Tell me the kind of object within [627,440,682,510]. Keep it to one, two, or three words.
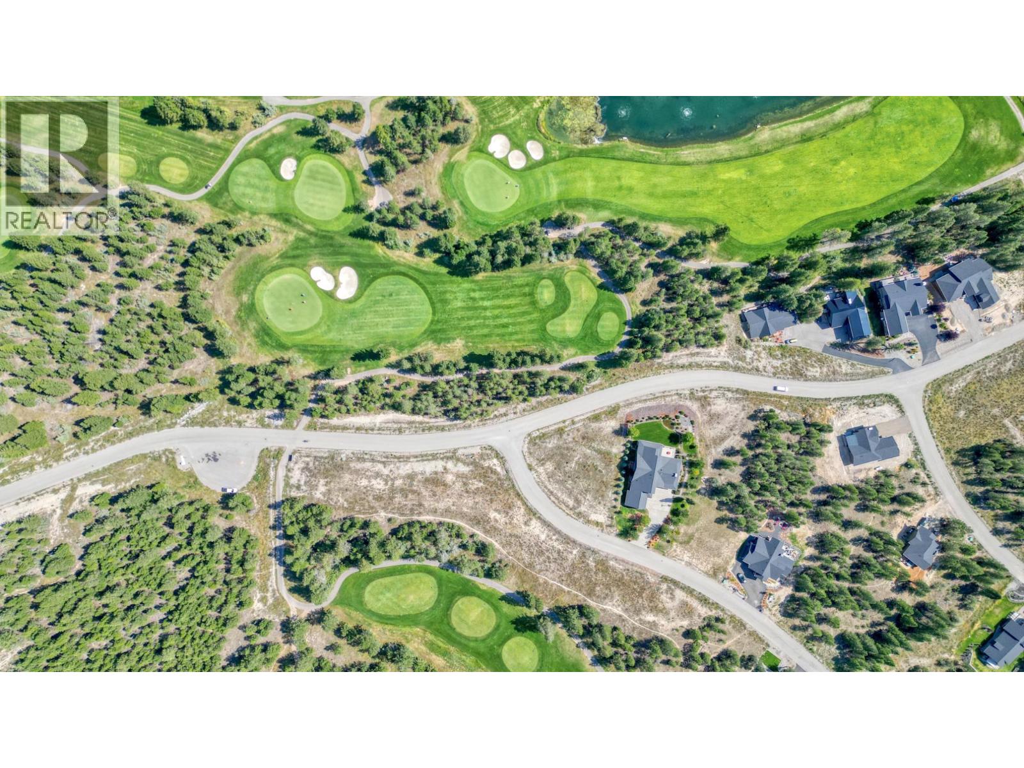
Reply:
house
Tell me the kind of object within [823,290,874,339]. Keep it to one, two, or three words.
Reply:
house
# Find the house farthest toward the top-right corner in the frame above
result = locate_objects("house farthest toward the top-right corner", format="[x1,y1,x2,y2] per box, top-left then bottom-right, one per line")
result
[930,258,999,307]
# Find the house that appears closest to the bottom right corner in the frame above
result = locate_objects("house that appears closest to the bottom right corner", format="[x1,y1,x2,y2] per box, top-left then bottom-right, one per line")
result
[977,613,1024,667]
